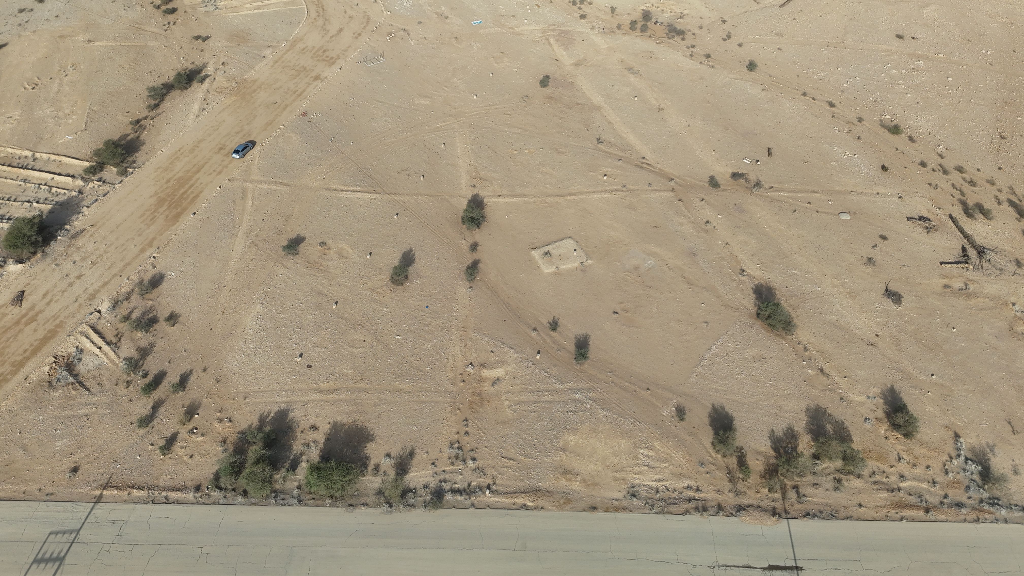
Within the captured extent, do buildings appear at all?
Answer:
No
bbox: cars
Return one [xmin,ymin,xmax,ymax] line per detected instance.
[231,143,253,159]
